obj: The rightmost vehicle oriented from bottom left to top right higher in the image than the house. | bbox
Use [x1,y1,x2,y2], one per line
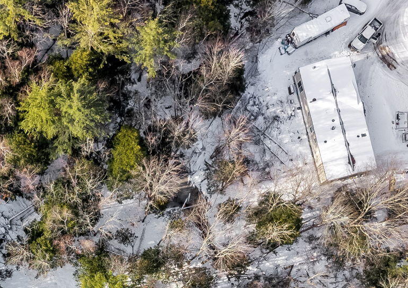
[349,16,385,55]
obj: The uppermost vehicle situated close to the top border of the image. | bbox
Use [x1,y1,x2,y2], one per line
[334,0,367,19]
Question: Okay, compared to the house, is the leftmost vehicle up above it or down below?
above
